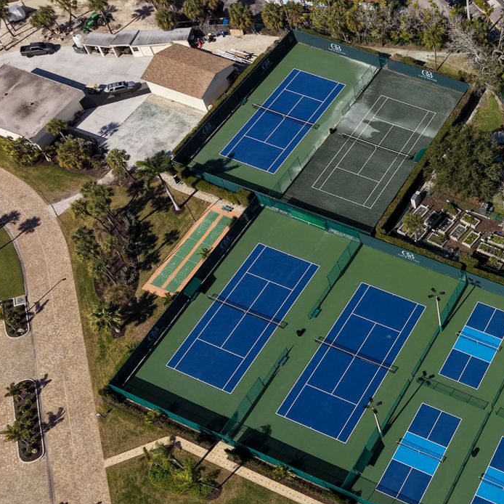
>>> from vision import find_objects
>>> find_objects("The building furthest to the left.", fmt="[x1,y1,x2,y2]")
[0,64,89,150]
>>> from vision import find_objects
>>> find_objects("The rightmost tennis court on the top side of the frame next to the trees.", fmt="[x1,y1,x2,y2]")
[285,66,464,234]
